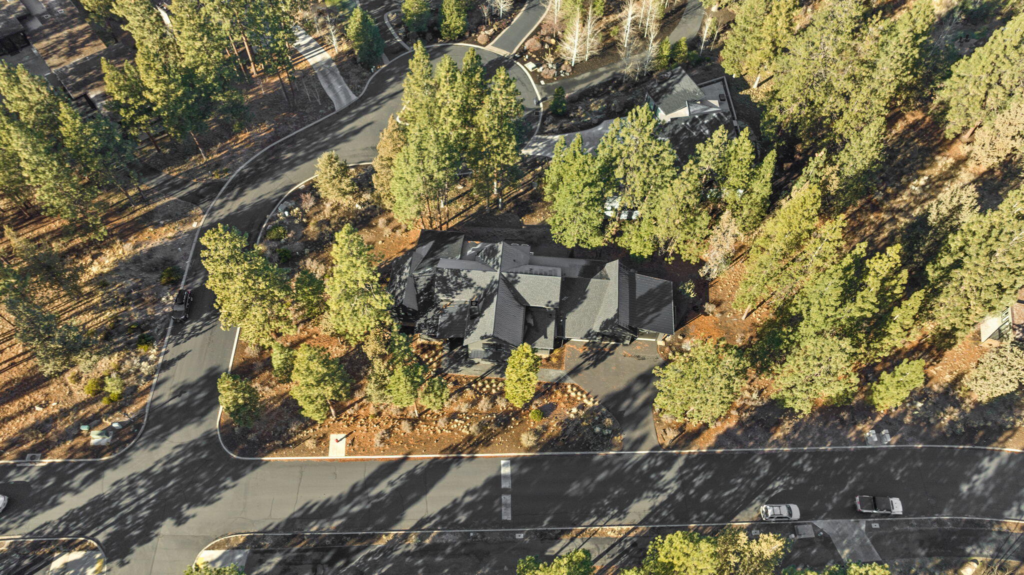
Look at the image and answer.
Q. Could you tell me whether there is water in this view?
No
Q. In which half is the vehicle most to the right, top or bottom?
bottom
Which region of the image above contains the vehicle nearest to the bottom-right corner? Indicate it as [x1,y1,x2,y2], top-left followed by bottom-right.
[856,497,907,517]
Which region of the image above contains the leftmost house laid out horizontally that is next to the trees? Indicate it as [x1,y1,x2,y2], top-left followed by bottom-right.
[384,234,679,376]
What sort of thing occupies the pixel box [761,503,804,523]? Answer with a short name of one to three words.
car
